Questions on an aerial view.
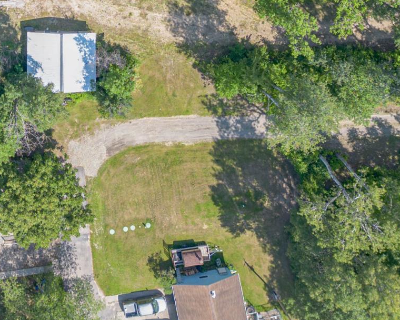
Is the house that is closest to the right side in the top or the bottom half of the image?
bottom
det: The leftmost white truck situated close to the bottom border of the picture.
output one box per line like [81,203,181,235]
[123,294,167,319]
